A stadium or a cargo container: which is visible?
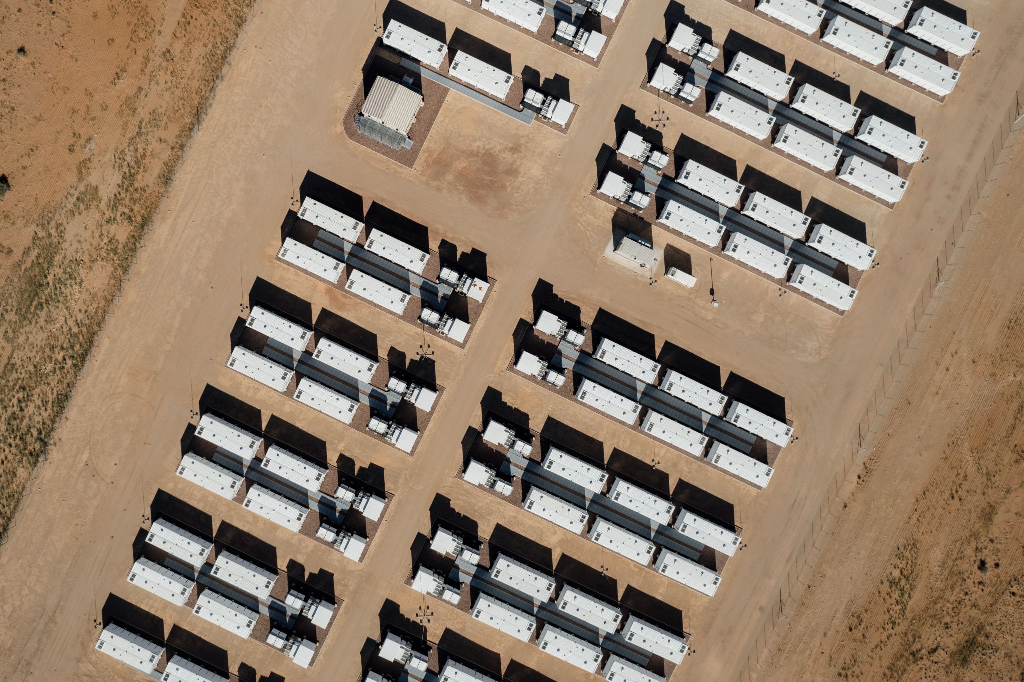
cargo container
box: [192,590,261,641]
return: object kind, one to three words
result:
shipping container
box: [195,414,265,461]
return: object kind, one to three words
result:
shipping container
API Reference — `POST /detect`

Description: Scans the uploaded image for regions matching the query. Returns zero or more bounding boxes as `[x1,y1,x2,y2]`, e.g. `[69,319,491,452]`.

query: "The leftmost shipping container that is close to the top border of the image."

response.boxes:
[384,19,449,70]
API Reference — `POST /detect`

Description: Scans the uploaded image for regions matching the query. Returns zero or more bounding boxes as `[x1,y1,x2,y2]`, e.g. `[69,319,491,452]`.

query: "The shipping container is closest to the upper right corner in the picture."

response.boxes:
[906,8,979,59]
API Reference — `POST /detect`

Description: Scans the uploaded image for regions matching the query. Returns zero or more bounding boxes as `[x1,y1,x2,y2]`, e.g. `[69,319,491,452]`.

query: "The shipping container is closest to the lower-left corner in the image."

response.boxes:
[94,624,166,675]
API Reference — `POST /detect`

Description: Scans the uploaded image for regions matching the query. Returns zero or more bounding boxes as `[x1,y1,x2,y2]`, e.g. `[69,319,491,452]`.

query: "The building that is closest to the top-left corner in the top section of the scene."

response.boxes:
[356,77,427,152]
